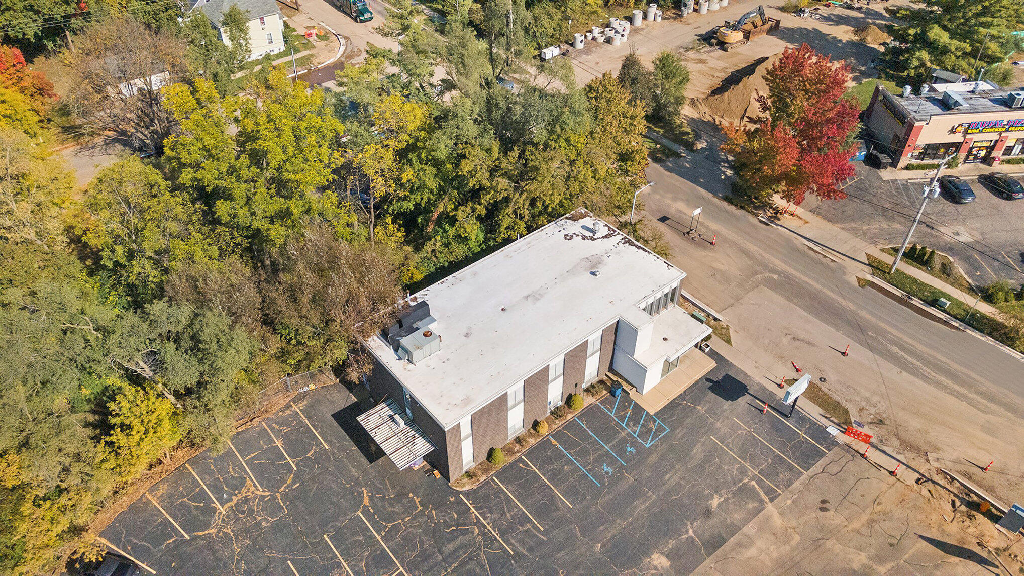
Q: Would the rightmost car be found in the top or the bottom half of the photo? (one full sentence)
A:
The top half of the photo is where the rightmost car is.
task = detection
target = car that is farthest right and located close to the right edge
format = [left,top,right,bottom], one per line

[984,174,1021,198]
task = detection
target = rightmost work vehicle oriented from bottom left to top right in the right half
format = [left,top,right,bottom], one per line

[710,0,762,48]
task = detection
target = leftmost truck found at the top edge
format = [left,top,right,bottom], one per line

[324,0,372,22]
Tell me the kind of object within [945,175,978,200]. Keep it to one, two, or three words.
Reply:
car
